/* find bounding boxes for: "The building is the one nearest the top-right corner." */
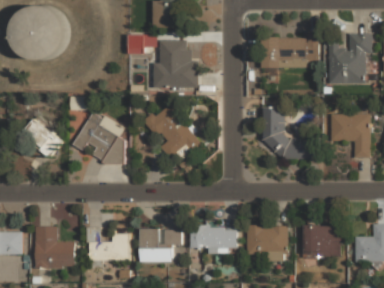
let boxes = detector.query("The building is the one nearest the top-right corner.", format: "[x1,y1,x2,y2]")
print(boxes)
[329,30,374,83]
